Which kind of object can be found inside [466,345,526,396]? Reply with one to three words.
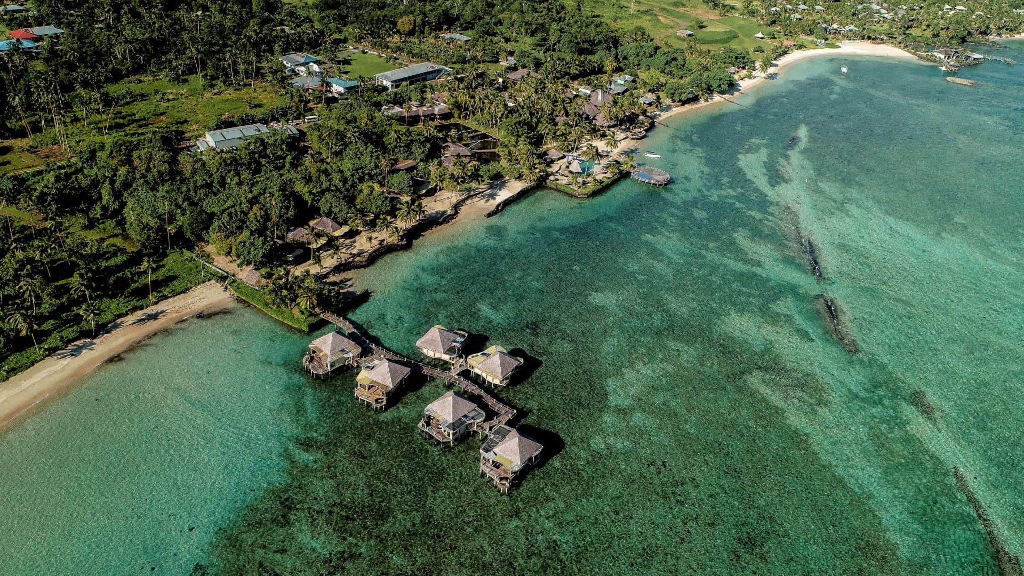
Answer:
house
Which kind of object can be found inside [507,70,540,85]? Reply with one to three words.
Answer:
shed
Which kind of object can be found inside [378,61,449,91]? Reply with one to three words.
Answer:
building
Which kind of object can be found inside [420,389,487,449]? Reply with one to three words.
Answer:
house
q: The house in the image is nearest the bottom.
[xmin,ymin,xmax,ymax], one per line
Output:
[479,425,545,496]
